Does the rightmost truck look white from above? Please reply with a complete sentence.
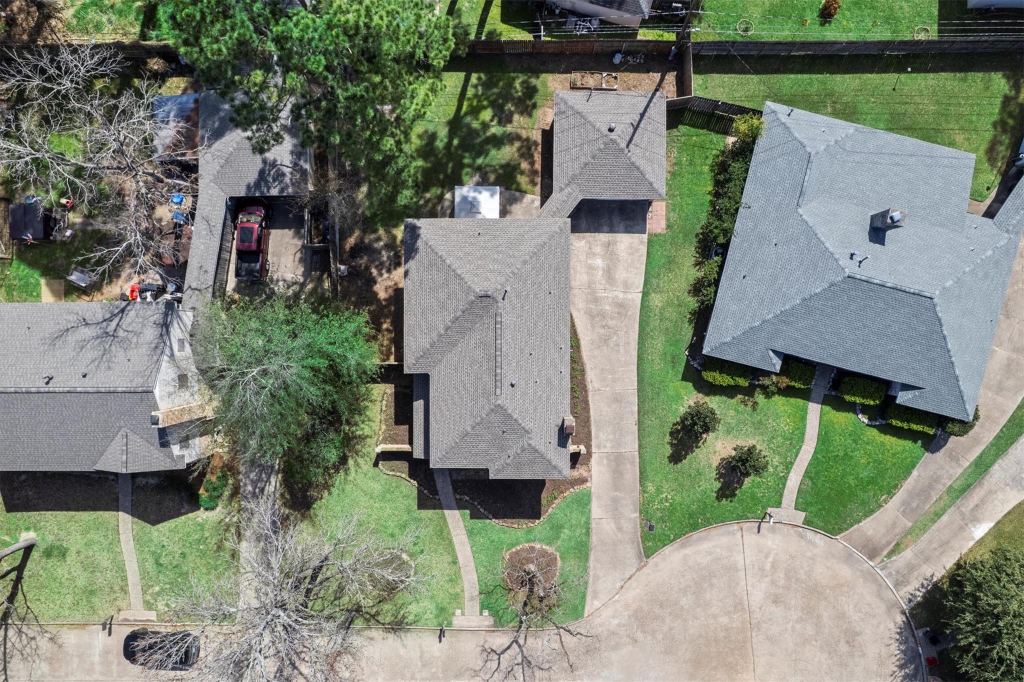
No, from above the rightmost truck looks black.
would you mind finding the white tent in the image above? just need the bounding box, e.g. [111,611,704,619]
[455,186,500,218]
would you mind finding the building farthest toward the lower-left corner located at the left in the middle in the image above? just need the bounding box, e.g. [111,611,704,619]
[0,301,227,477]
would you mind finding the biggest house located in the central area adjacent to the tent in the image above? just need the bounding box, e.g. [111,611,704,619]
[402,216,579,480]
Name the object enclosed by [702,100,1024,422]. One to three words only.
house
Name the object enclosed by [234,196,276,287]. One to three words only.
truck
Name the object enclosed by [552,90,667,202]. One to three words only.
building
